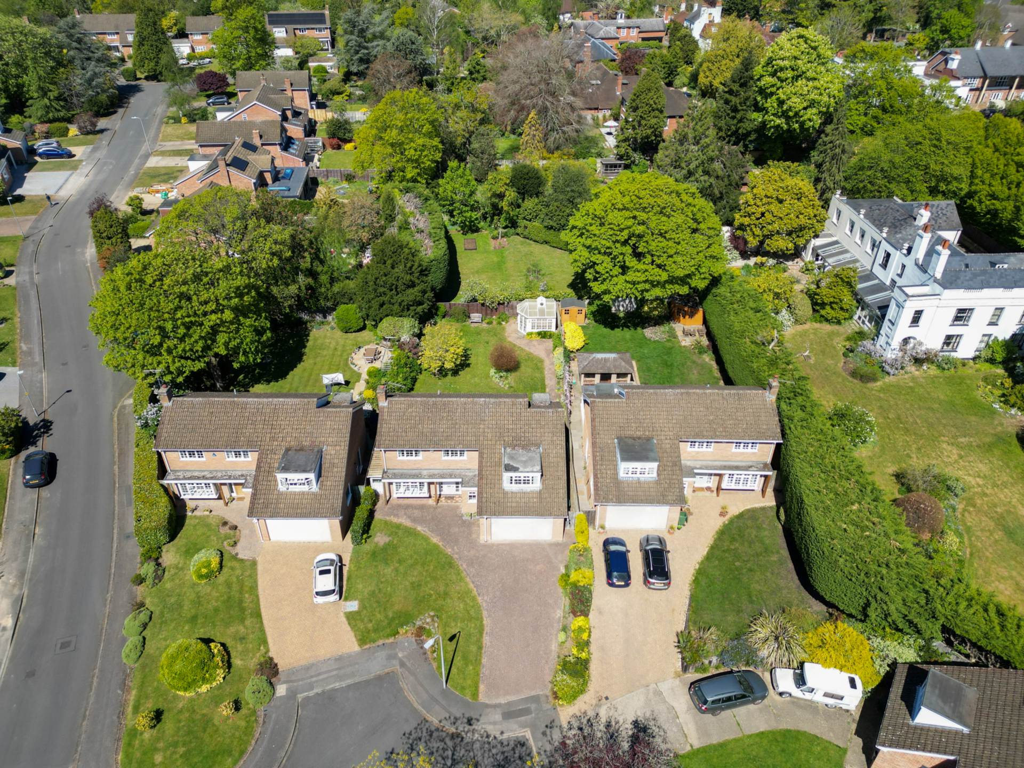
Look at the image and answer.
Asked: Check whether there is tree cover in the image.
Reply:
Yes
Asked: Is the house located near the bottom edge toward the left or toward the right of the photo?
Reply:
right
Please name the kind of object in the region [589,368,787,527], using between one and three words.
house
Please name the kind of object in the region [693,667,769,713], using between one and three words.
car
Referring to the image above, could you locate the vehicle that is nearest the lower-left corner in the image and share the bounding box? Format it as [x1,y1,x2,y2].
[17,448,51,489]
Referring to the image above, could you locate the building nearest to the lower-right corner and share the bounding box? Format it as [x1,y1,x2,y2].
[872,663,1024,768]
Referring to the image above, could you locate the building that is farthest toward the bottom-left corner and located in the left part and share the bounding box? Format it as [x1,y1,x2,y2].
[151,376,362,539]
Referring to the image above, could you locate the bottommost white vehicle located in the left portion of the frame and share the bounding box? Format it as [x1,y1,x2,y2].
[308,553,343,604]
